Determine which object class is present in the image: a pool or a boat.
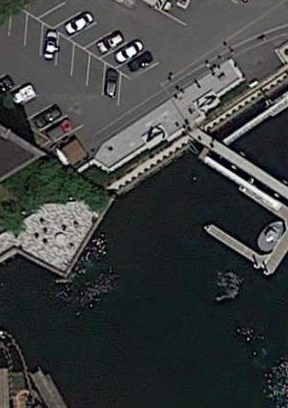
boat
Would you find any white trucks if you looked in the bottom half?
No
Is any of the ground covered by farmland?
No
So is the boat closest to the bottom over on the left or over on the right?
right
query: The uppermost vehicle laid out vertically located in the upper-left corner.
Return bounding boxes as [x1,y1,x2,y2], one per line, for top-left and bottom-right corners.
[42,29,57,59]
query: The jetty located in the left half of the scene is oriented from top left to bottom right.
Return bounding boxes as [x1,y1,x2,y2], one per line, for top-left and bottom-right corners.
[30,368,68,408]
